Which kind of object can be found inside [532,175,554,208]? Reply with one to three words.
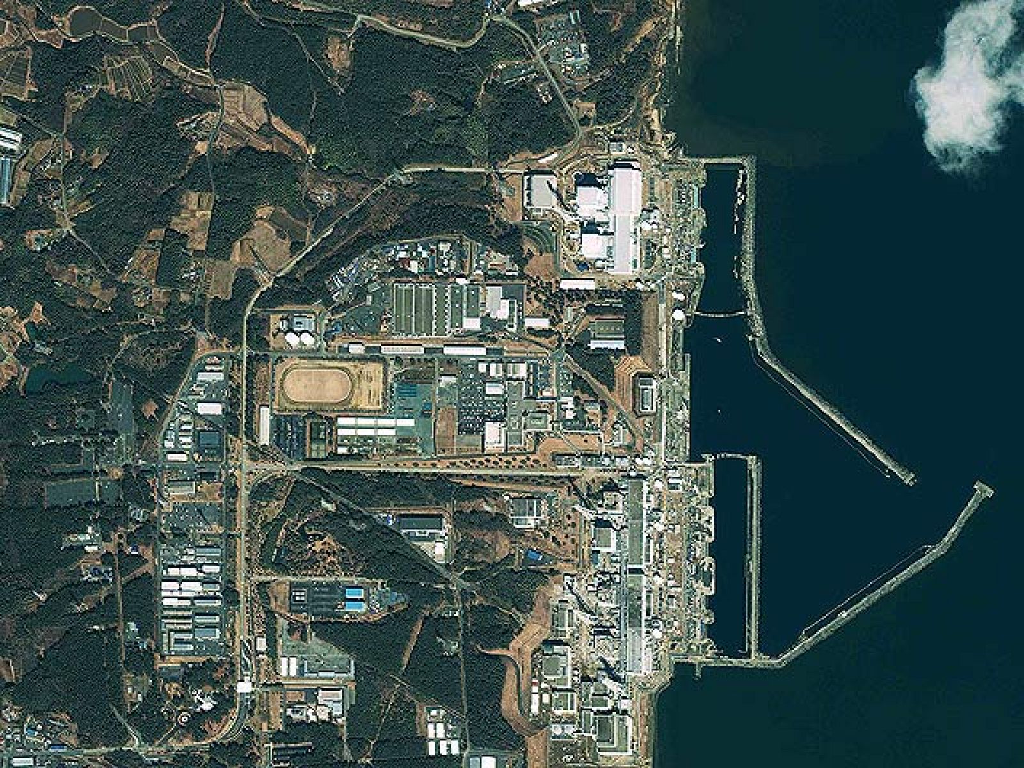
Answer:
building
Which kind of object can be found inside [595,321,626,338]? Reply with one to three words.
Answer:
building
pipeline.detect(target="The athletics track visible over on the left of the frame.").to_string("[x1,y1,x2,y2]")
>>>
[274,359,383,410]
